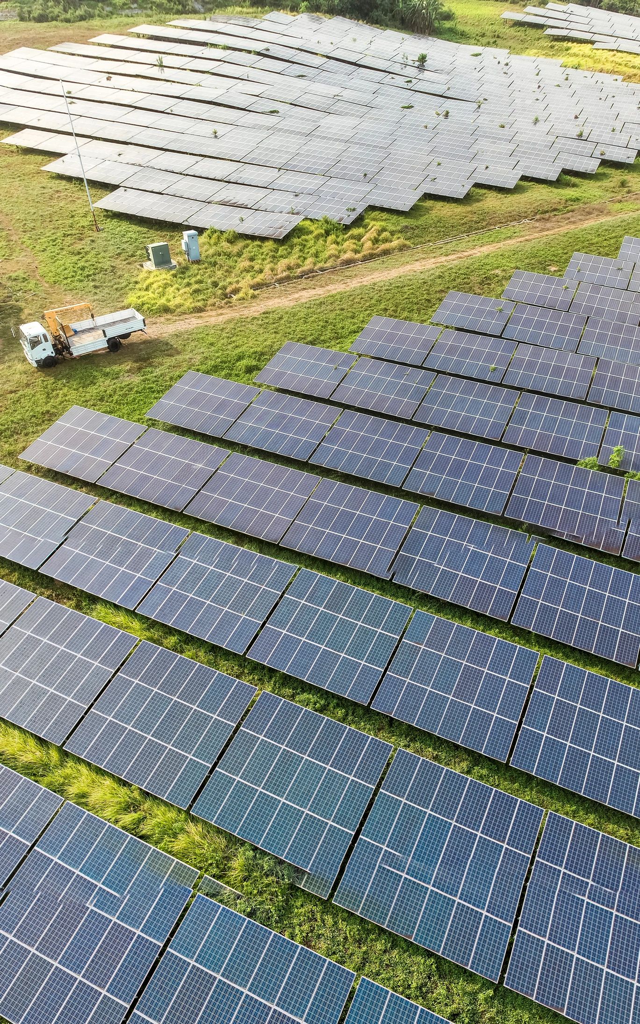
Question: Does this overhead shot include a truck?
Yes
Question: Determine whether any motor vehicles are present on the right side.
No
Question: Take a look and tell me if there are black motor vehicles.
No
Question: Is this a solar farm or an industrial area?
solar farm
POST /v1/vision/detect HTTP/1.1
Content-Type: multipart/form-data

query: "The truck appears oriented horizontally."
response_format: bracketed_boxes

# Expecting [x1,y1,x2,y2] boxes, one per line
[18,301,151,367]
